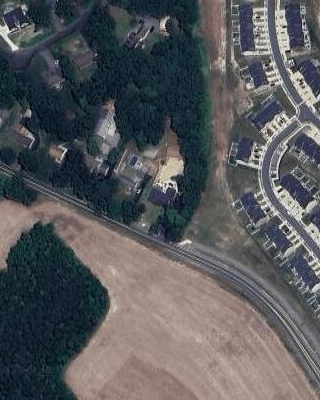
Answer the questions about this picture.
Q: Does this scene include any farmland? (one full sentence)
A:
Yes, farmland can be seen from above here.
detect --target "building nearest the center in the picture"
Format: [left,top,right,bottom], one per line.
[150,186,177,209]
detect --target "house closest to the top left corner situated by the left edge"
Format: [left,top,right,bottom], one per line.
[8,7,29,31]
